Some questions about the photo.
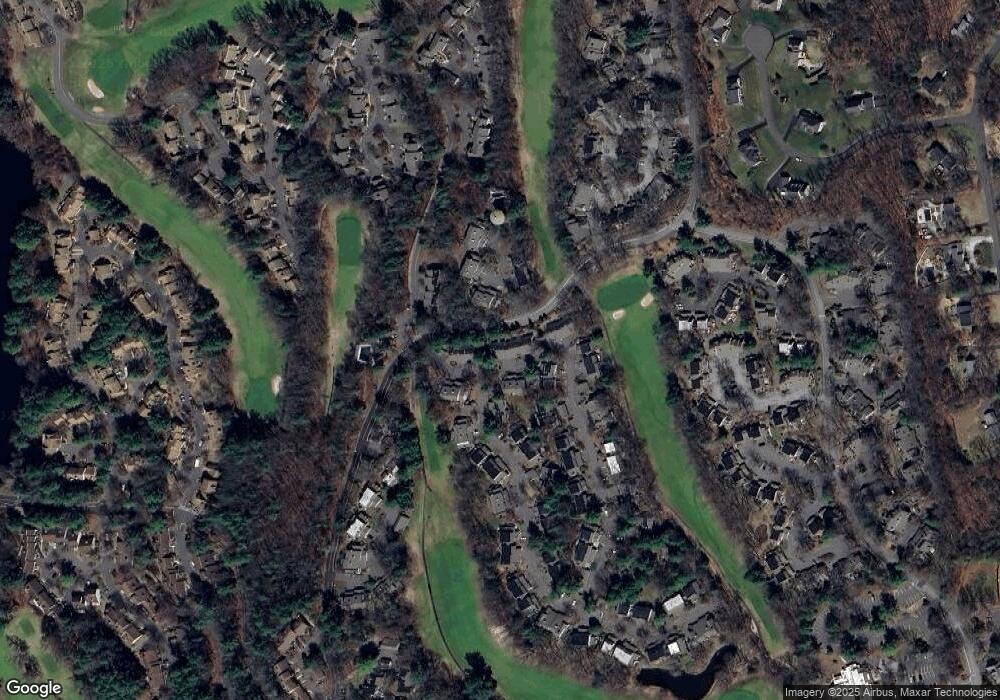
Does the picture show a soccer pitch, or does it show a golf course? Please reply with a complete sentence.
The one in the frame is a golf course.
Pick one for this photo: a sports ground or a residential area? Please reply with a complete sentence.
This looks like a residential area.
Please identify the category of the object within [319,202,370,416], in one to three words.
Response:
golf course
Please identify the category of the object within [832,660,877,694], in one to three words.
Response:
building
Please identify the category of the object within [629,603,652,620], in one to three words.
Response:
house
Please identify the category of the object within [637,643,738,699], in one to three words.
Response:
pond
